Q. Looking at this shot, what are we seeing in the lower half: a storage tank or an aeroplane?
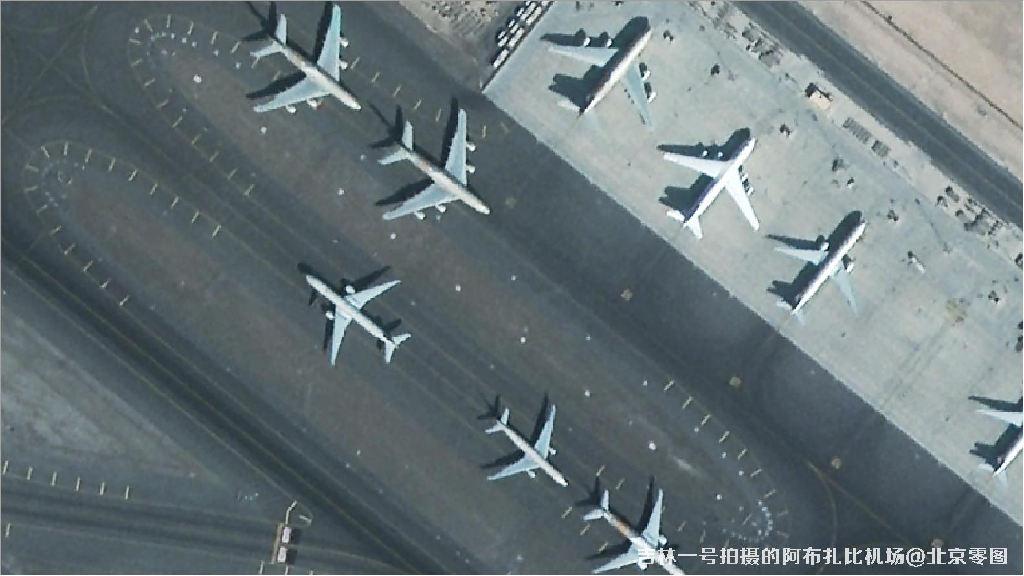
aeroplane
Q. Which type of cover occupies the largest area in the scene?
paved ground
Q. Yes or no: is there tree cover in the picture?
No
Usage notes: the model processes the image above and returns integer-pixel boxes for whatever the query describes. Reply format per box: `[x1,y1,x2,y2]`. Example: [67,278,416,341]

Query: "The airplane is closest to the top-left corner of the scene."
[252,4,361,114]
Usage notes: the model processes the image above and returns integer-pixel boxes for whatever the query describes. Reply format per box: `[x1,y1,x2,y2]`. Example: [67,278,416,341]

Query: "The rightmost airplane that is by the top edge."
[546,25,657,133]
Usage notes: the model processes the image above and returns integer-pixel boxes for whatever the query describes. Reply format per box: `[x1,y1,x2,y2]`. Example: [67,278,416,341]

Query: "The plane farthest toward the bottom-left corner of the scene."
[306,274,406,365]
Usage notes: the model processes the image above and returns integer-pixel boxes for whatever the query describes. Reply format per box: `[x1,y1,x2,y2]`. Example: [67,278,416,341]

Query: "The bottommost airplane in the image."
[586,490,685,576]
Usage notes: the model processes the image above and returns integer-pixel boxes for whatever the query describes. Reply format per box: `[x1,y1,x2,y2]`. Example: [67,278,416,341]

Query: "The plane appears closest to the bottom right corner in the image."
[975,405,1024,482]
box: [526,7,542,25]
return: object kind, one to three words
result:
vehicle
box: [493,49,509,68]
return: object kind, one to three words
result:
vehicle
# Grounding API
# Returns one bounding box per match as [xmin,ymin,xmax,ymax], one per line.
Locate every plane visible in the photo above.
[661,138,758,243]
[488,409,567,485]
[975,405,1024,482]
[546,25,657,133]
[306,274,406,365]
[252,4,361,114]
[774,223,866,323]
[380,110,490,222]
[586,490,685,576]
